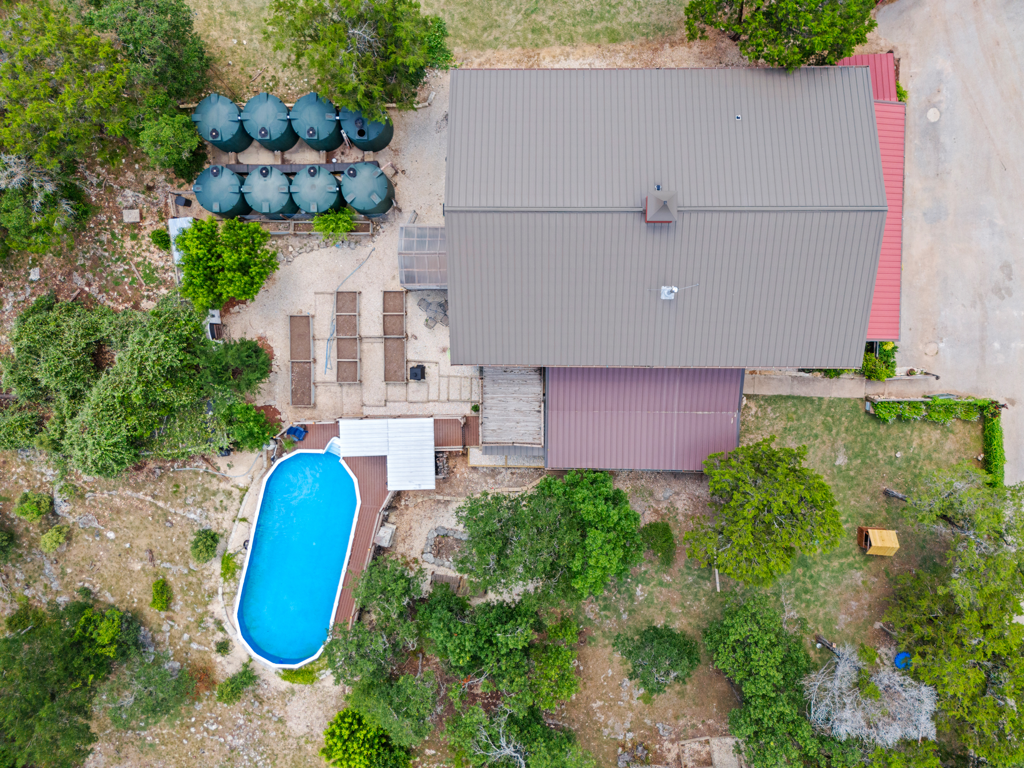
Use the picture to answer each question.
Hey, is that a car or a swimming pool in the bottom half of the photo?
swimming pool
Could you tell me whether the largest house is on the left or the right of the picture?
right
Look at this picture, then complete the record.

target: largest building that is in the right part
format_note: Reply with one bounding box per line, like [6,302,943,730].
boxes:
[445,52,911,473]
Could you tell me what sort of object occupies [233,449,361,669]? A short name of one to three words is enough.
swimming pool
